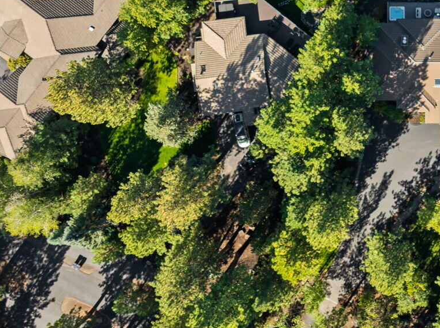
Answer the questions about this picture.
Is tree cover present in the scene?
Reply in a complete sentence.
Yes, there's tree cover in this view.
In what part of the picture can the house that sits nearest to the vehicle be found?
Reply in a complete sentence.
The house that sits nearest to the vehicle is in the top part of the image.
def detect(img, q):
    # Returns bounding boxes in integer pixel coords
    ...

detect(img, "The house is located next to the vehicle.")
[190,16,301,126]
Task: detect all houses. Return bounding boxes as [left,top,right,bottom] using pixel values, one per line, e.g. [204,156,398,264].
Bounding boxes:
[374,19,440,124]
[0,0,124,159]
[190,16,301,126]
